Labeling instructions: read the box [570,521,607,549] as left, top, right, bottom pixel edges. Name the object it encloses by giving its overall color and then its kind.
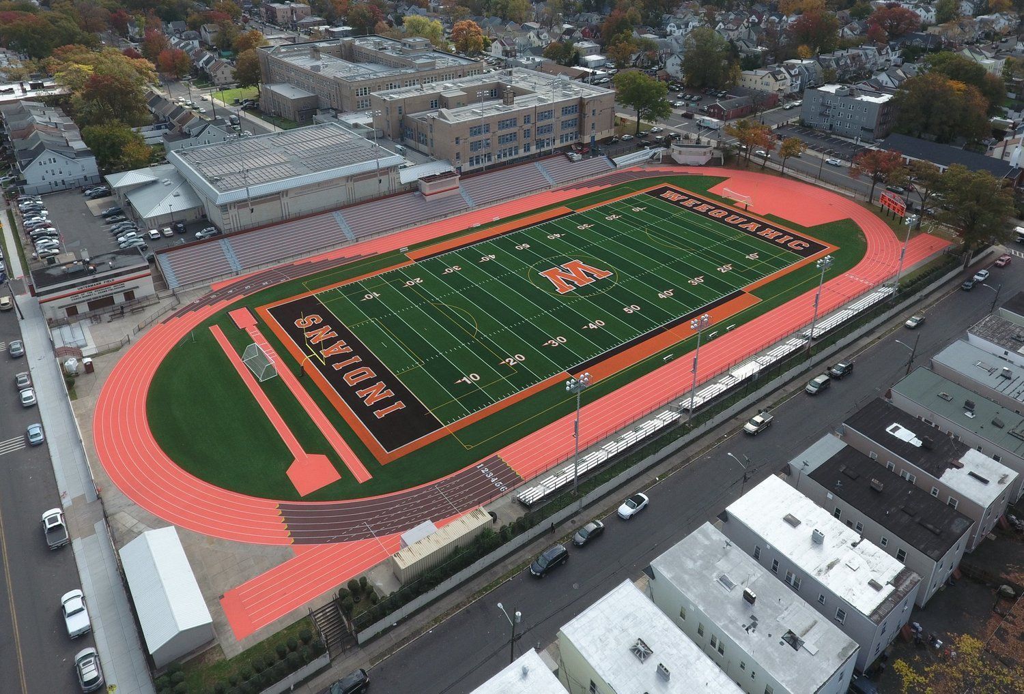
gray car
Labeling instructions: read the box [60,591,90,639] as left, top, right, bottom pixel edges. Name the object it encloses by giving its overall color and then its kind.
white truck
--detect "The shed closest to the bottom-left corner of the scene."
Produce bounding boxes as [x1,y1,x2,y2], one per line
[121,529,242,694]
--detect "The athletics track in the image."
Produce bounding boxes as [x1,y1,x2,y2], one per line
[96,167,949,642]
